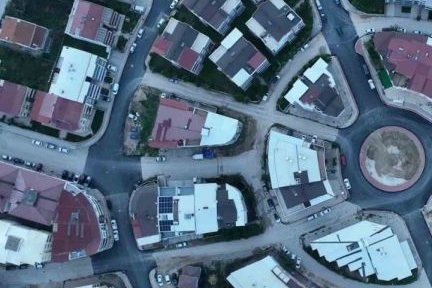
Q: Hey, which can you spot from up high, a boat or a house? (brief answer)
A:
house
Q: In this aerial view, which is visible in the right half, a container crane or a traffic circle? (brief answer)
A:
traffic circle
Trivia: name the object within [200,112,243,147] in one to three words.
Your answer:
house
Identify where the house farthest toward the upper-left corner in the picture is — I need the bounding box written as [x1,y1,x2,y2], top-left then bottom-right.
[0,15,54,51]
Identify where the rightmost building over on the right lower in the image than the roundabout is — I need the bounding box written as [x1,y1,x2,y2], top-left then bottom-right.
[309,218,417,282]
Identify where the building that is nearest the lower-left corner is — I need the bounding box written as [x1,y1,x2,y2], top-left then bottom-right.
[0,216,51,266]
